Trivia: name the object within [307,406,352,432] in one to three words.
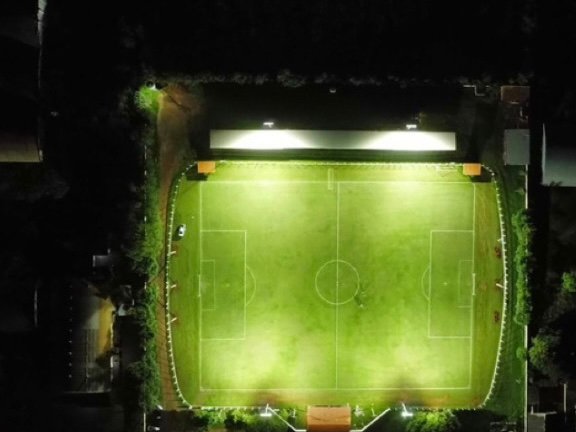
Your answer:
building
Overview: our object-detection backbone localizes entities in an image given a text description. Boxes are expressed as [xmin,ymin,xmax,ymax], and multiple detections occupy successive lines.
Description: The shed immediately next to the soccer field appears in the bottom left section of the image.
[69,282,114,393]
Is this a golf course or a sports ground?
sports ground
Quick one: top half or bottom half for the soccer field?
bottom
